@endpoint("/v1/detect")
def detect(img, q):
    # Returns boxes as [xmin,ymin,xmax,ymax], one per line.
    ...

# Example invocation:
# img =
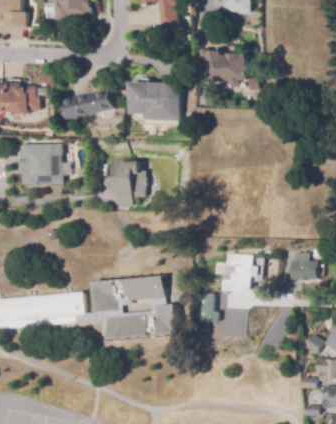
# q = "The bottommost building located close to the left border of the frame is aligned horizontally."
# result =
[0,292,84,320]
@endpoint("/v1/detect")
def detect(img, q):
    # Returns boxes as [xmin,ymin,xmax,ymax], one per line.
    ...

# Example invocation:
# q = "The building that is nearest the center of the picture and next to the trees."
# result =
[107,162,148,210]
